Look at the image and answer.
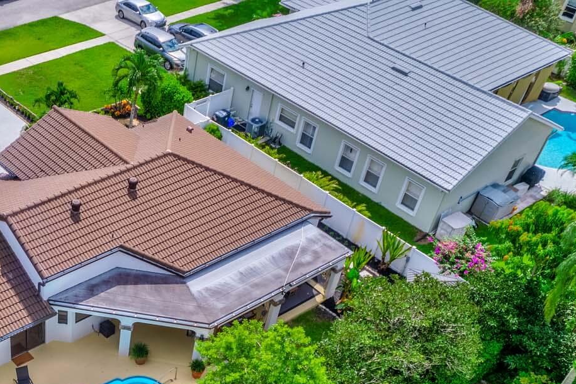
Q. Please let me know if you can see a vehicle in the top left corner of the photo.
Yes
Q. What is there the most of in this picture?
buildings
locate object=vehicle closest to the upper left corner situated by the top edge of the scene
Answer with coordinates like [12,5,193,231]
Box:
[113,0,165,30]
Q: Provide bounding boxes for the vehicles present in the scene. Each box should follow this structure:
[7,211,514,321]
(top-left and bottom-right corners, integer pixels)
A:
[165,20,216,44]
[137,28,190,70]
[113,0,165,30]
